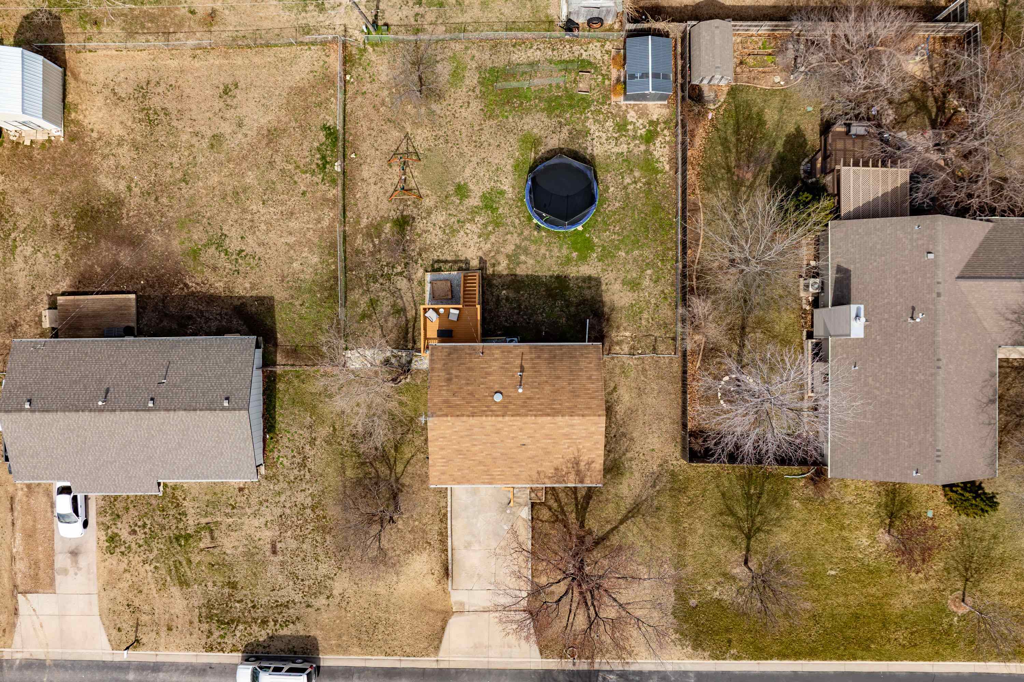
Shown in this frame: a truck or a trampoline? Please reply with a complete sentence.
It is a trampoline that can be seen here.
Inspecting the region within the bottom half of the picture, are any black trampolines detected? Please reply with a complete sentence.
No, no black trampoline appears within the bottom half of the picture.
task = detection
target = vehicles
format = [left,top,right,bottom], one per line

[49,484,89,541]
[237,661,317,682]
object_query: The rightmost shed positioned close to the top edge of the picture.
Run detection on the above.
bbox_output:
[688,16,733,90]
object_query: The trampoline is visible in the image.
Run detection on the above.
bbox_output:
[524,154,599,236]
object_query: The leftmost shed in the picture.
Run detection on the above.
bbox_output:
[0,40,62,137]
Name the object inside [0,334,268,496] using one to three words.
house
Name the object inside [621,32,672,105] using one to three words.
shed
